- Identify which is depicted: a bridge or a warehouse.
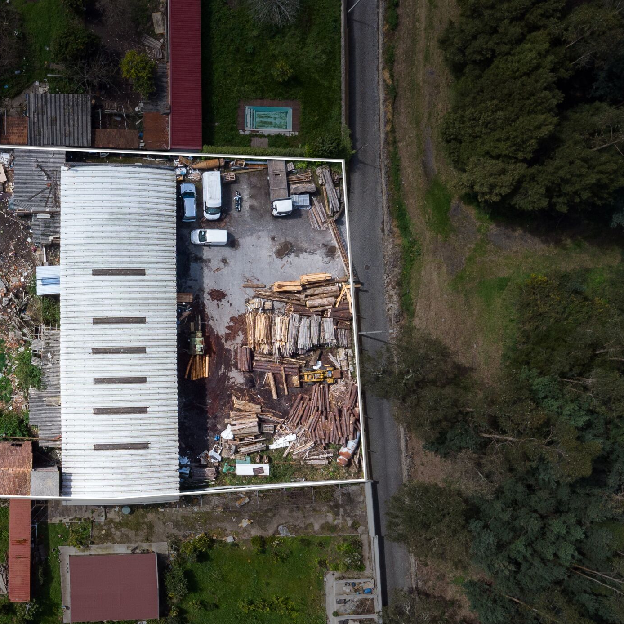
warehouse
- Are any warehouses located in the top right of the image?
No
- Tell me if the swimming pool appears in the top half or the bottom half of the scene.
top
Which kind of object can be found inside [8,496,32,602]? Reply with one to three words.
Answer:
shed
